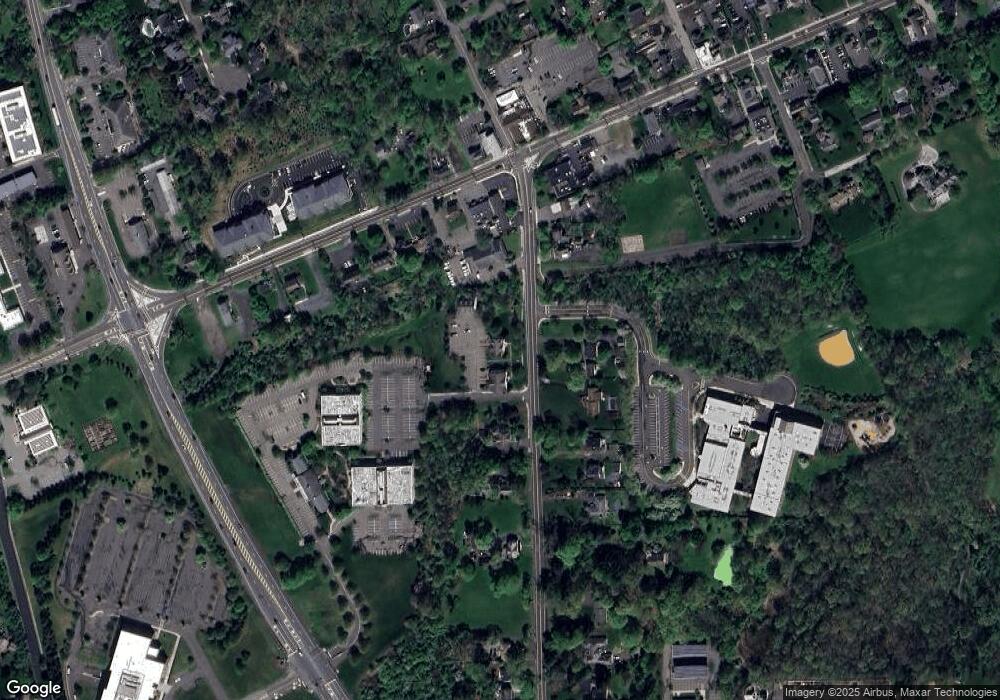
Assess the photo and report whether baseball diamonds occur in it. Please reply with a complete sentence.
Yes, this view includes a baseball diamond.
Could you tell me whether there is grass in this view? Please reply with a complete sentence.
Yes, grass can be seen from above here.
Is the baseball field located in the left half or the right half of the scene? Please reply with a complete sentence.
The baseball field appears in the right half of the scene.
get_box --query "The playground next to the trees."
[848,419,896,449]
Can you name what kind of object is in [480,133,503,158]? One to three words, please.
building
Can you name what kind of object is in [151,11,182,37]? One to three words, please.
house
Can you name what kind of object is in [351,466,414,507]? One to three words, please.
building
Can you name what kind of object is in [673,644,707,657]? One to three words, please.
shed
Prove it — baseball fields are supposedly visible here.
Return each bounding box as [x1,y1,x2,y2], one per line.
[819,327,860,366]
